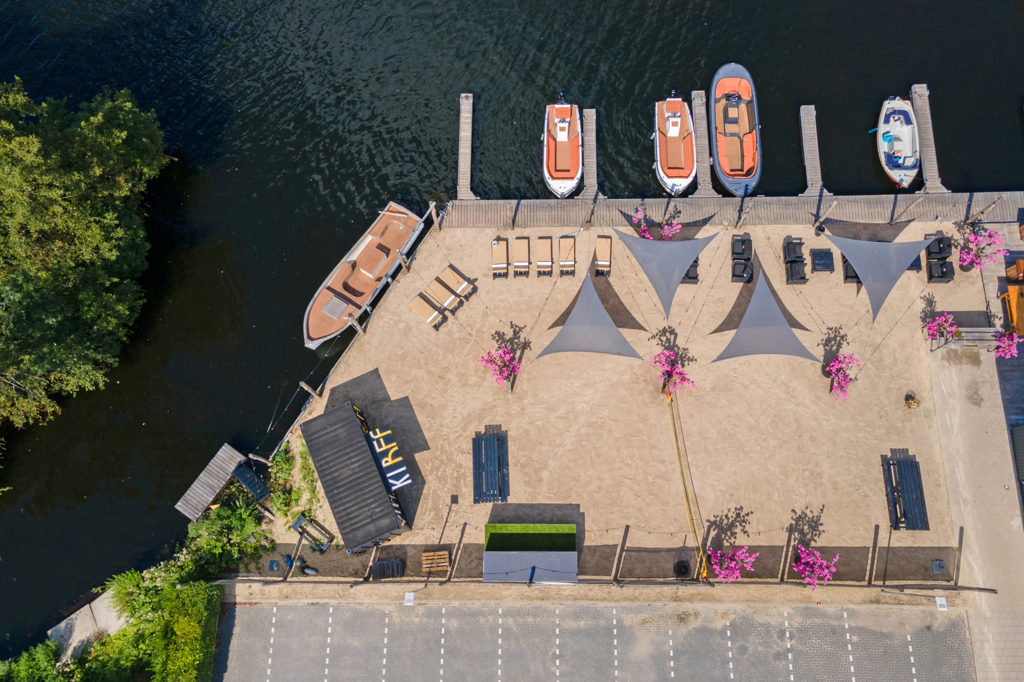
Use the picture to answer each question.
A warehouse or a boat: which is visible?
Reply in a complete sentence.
Looking from above, you can make out a boat.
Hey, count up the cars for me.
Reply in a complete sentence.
The count of cars is 0.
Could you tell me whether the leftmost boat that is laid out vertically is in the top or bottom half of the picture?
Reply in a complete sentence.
The top half of the photo is where the leftmost boat that is laid out vertically is.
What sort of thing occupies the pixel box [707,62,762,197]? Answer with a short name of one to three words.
boat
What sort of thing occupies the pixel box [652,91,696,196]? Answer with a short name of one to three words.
boat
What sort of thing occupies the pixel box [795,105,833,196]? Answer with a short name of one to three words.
pier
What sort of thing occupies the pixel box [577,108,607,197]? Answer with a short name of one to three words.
pier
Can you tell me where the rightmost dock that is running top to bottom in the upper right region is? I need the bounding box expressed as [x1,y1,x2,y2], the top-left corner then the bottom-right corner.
[905,83,952,196]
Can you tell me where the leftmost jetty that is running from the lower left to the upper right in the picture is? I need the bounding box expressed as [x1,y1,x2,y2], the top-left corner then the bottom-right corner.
[176,444,248,522]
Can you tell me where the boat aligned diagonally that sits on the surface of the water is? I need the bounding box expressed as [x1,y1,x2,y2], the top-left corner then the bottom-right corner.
[302,201,423,349]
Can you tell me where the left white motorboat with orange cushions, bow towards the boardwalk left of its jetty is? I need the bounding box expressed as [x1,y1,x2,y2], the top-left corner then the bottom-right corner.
[541,96,584,199]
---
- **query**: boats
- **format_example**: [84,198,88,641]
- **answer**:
[302,201,423,349]
[868,95,919,190]
[652,91,696,196]
[707,62,762,197]
[541,96,584,199]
